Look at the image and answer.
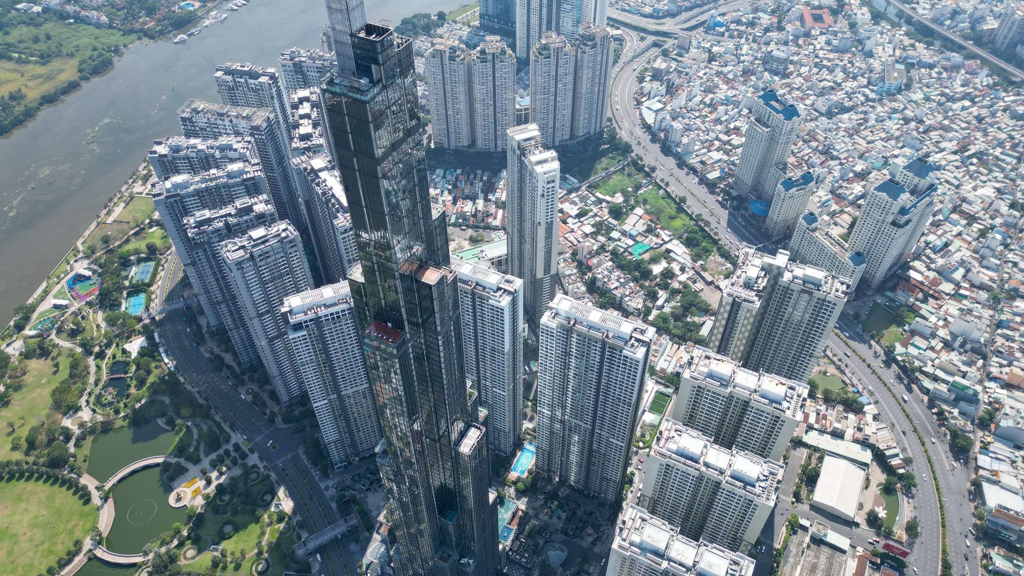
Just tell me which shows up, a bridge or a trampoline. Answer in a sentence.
I can see a bridge in this picture.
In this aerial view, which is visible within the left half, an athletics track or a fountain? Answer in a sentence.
It is a fountain that can be seen within the left half.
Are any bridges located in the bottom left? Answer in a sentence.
Yes, there is a bridge in the bottom left.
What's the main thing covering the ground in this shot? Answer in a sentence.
The largest share of the image is taken up by buildings.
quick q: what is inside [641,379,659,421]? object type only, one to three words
building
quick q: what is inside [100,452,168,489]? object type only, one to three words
bridge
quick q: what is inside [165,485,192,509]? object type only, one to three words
fountain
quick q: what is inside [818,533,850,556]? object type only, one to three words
building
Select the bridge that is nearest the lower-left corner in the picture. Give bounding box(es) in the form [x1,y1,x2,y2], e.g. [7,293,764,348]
[85,542,157,566]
